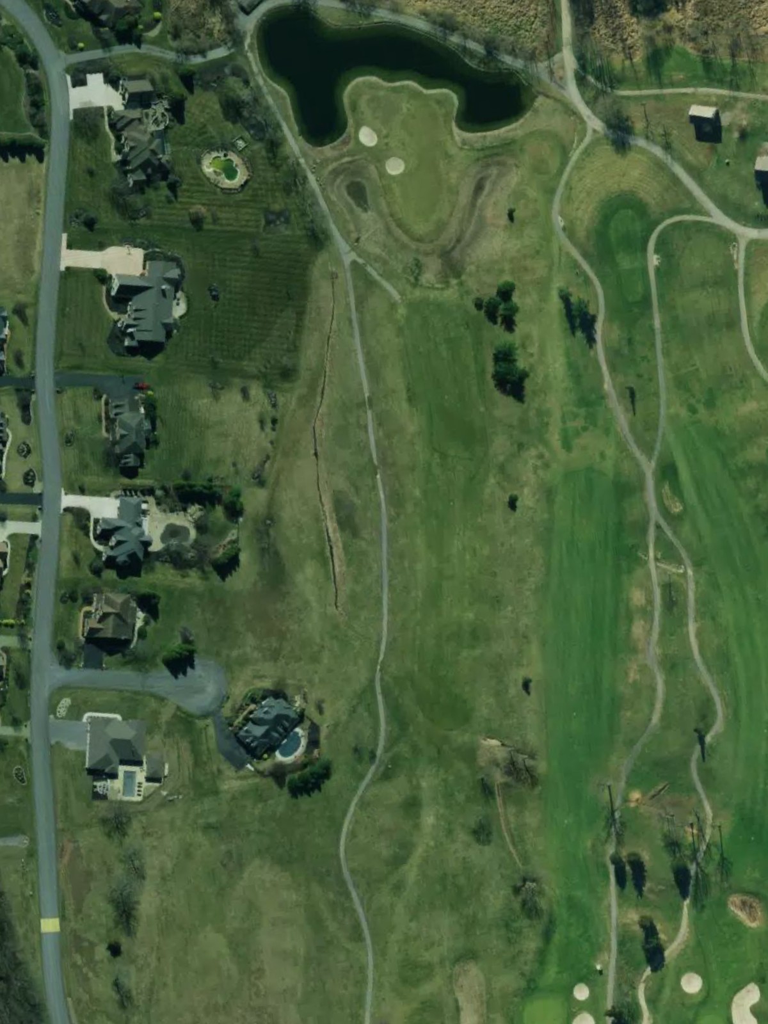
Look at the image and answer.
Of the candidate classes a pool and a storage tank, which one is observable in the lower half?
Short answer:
pool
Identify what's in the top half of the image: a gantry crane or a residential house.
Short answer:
residential house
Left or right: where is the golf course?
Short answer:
right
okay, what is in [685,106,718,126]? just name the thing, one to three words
barn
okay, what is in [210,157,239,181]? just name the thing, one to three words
swimming pool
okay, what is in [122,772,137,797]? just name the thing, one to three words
swimming pool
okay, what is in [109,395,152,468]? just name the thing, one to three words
house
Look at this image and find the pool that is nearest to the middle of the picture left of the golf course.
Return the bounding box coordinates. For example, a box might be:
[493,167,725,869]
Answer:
[160,522,191,544]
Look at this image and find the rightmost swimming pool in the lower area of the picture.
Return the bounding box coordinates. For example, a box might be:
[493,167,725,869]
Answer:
[277,730,302,759]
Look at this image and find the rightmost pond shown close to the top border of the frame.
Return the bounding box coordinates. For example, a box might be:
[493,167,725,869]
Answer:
[260,6,531,144]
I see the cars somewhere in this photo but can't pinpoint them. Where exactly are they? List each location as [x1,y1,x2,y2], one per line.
[137,383,147,388]
[245,763,255,771]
